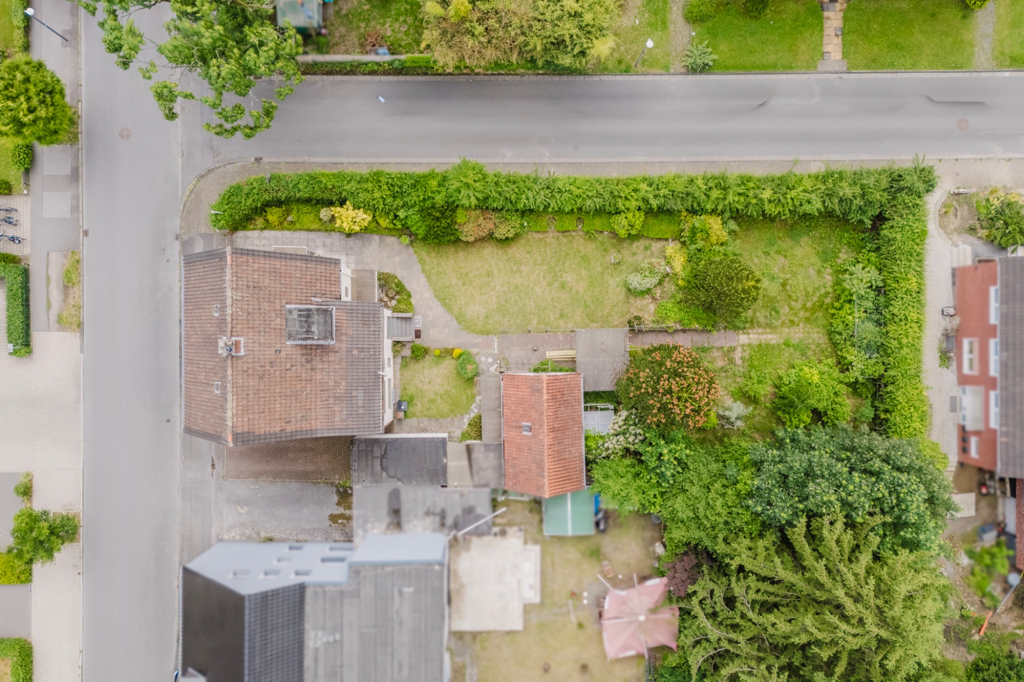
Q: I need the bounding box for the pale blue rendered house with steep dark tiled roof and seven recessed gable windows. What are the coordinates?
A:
[173,535,456,682]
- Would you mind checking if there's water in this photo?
No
